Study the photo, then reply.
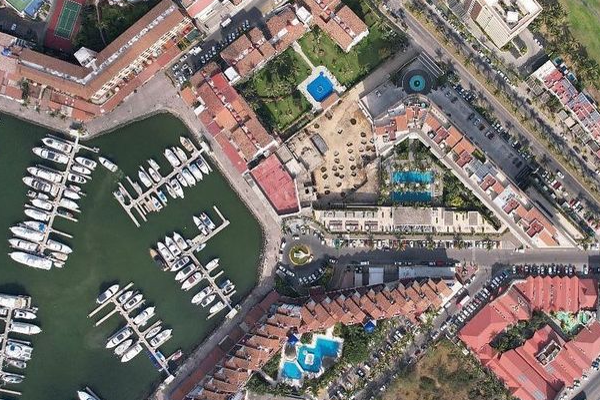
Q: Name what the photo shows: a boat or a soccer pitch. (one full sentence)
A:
Of the two, only a boat appears.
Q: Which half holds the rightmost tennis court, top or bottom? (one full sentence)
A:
You can find the rightmost tennis court in the top half.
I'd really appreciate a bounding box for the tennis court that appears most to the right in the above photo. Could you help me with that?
[44,0,85,49]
